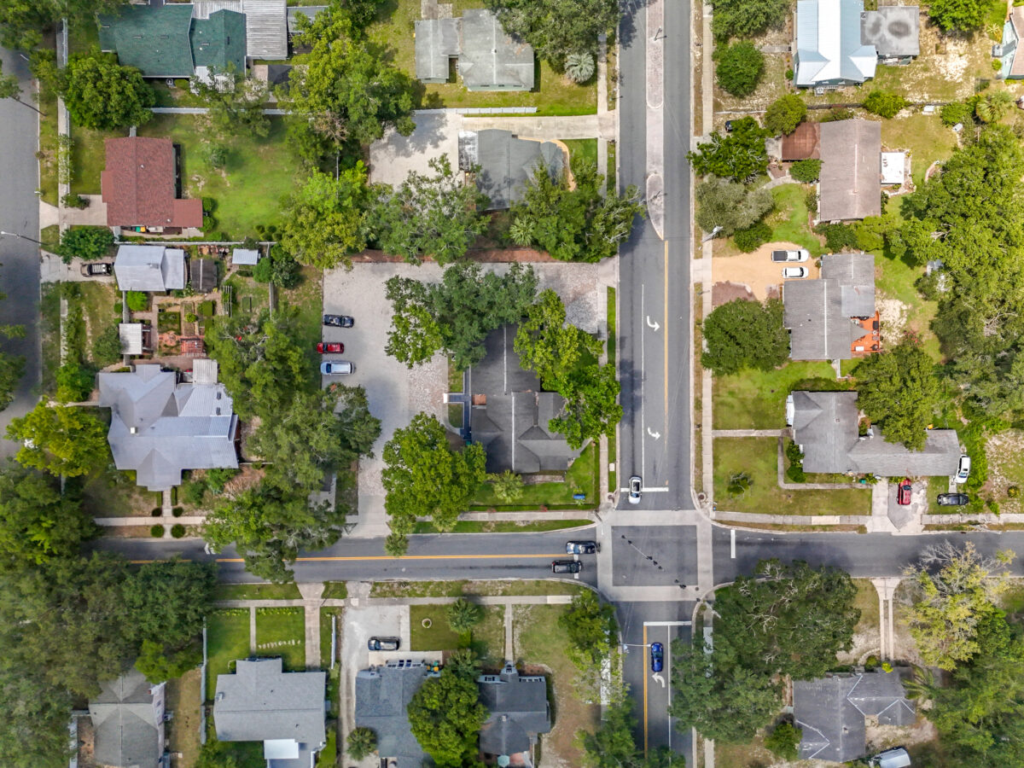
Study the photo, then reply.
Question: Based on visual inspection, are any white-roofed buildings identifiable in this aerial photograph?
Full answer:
Yes, you can see a white-roofed building in this photo.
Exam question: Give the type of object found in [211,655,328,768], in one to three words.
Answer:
house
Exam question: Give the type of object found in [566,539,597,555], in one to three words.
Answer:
car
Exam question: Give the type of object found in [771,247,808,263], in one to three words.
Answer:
vehicle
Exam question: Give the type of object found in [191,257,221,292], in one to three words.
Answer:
shed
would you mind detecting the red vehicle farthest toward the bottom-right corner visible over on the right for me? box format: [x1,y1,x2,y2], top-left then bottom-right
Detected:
[895,478,913,504]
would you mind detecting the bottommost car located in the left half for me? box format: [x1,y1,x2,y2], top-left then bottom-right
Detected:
[369,635,400,651]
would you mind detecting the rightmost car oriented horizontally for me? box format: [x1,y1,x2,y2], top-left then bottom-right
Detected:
[935,492,966,507]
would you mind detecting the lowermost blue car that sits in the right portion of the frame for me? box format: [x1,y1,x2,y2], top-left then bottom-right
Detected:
[650,642,664,671]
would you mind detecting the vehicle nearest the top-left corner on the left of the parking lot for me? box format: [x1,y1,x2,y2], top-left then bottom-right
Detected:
[83,262,114,276]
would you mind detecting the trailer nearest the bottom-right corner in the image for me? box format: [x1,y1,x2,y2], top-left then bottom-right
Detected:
[865,744,911,768]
